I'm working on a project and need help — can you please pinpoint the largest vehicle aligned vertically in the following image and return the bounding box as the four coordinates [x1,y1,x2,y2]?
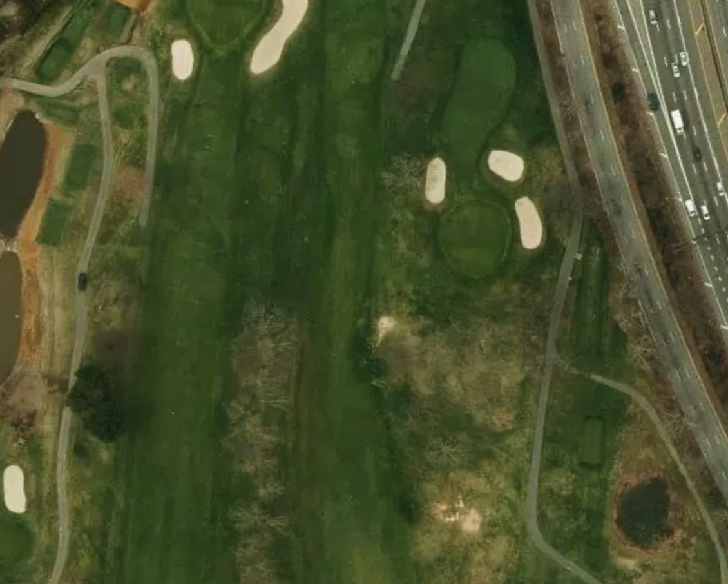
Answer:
[672,109,684,134]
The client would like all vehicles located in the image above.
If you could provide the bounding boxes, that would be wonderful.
[716,181,725,195]
[649,10,658,25]
[648,93,659,109]
[693,145,702,160]
[686,199,696,216]
[702,203,710,218]
[672,62,680,78]
[79,273,86,290]
[680,50,688,65]
[672,109,684,134]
